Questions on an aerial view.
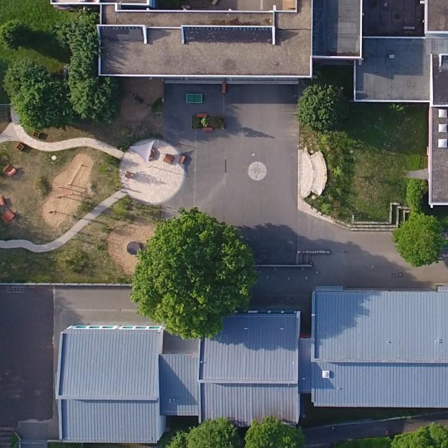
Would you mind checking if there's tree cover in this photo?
Yes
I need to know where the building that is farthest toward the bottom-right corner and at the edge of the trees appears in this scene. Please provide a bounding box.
[311,283,448,407]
